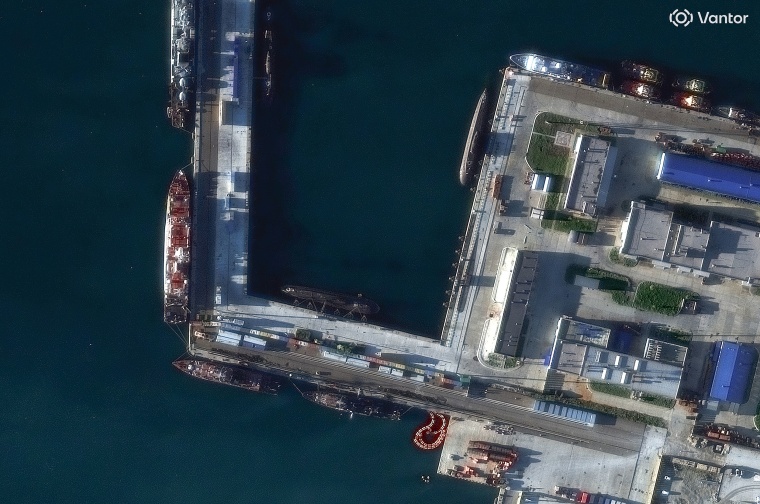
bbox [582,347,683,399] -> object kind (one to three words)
building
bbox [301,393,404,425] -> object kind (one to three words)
ship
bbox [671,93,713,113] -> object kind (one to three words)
boat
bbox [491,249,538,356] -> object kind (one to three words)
building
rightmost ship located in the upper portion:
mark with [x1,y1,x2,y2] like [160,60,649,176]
[716,105,760,125]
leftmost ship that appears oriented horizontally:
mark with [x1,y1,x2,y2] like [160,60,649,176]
[171,362,284,399]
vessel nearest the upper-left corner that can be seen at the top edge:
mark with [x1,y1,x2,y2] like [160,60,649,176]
[166,0,197,129]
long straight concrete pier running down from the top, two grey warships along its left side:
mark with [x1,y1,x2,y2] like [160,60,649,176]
[189,0,255,312]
